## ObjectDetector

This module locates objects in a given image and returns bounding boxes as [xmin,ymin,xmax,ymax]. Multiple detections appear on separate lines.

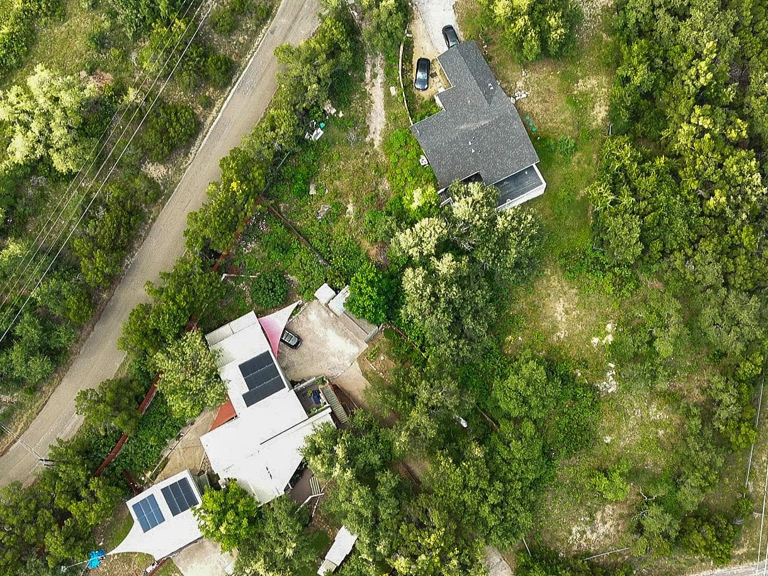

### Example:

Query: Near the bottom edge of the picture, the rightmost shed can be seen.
[317,523,359,576]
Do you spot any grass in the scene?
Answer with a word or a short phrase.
Yes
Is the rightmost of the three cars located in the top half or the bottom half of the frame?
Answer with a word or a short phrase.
top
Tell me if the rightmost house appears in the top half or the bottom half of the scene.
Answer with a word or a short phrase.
top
